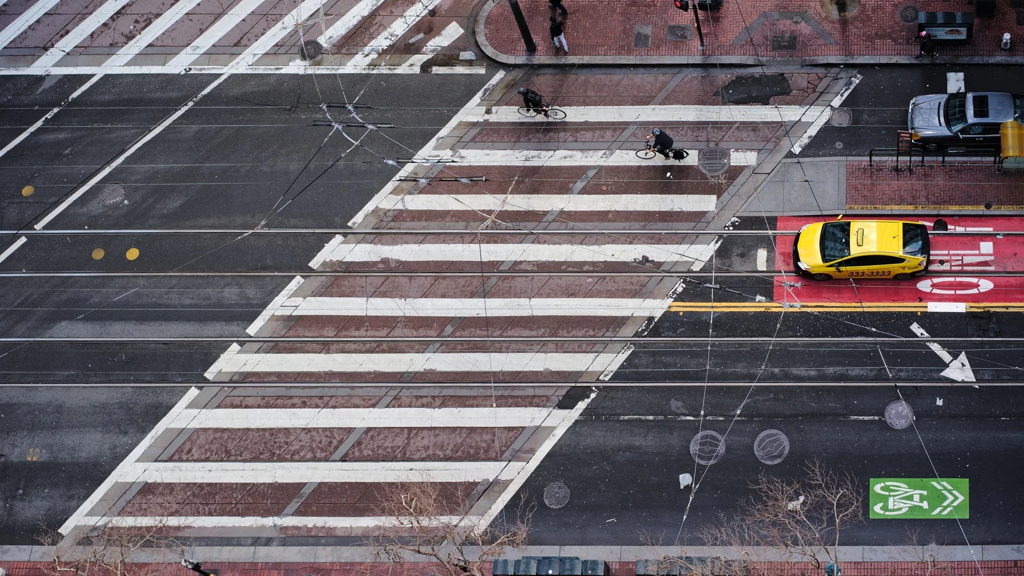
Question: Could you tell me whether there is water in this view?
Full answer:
No, the scene doesn't show any water.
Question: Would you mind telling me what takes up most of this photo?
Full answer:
The scene is dominated by paved ground.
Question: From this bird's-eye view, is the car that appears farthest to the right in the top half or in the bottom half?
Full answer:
The top half of the photo is where the car that appears farthest to the right is.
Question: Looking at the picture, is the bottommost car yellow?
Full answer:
Yes, the bottommost car appears yellow.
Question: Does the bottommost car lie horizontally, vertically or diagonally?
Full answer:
The bottommost car has been laid out horizontally relative to the frame.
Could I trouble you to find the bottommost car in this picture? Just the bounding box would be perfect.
[792,213,931,279]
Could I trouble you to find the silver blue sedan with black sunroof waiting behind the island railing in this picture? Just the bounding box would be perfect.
[907,86,1024,150]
